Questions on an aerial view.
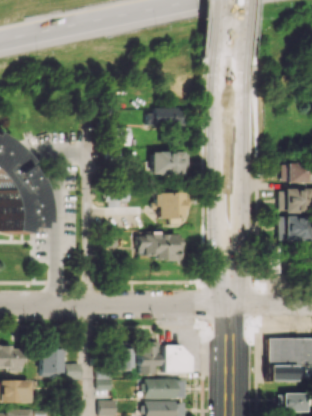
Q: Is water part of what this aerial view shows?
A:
No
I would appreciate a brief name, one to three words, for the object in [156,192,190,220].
house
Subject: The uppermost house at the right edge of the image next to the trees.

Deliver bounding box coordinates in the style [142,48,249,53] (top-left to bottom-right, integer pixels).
[281,164,312,184]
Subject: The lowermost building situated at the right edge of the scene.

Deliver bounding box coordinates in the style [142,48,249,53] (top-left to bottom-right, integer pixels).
[278,392,312,412]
